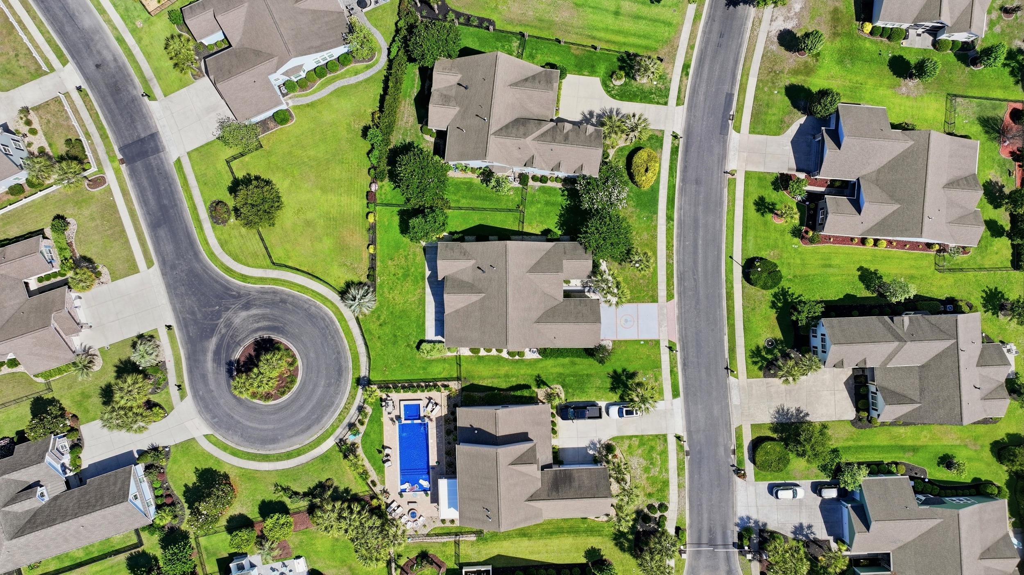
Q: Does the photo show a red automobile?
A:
No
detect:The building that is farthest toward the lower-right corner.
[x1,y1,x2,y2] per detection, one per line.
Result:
[838,474,1023,575]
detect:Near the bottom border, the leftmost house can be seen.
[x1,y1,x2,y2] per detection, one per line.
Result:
[0,433,168,574]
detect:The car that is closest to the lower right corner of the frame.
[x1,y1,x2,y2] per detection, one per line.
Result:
[816,485,849,502]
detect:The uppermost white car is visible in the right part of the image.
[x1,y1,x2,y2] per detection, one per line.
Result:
[608,406,643,423]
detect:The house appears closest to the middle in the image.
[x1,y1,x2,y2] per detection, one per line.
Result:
[436,239,603,350]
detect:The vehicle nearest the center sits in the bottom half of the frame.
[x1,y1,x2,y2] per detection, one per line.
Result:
[559,406,602,424]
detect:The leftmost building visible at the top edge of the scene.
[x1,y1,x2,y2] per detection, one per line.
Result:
[182,0,350,124]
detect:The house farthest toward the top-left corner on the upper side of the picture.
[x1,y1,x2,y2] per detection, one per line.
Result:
[0,128,38,191]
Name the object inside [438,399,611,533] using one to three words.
building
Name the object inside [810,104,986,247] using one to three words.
house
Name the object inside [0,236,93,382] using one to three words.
house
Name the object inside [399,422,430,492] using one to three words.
swimming pool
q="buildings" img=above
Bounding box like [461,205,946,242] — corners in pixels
[428,52,604,177]
[868,0,986,45]
[838,474,1023,575]
[810,310,1014,425]
[436,239,603,350]
[0,128,38,191]
[0,433,168,574]
[0,236,93,382]
[182,0,350,124]
[810,104,986,247]
[462,558,494,575]
[438,399,611,533]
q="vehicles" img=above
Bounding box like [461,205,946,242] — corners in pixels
[772,485,805,503]
[559,406,602,424]
[816,485,849,502]
[608,406,643,423]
